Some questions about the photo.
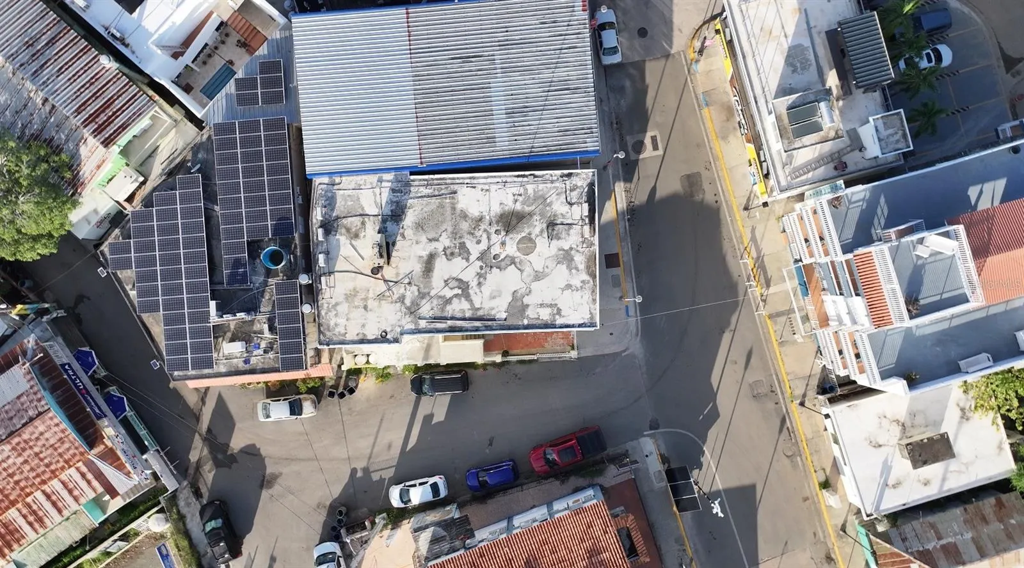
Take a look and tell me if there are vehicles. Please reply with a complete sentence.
Yes, the picture does show a vehicle.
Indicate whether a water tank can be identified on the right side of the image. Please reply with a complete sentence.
No, there's no water tank to be seen on the right side of the image.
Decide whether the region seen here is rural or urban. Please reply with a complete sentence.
The land in this view is best described as urban.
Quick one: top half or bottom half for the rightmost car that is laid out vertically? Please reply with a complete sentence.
The rightmost car that is laid out vertically is in the top half of the image.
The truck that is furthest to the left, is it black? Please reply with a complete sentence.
Yes, black is the color of the truck that is furthest to the left.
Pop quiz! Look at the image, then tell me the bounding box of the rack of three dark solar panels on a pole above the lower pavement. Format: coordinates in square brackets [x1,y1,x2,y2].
[666,465,702,513]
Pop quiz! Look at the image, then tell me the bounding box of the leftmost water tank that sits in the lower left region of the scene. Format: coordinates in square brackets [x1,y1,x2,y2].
[140,512,168,538]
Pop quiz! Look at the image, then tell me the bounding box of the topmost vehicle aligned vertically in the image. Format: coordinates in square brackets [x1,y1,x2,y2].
[595,5,622,65]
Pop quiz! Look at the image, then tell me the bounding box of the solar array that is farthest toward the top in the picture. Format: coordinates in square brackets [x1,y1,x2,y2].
[235,60,285,106]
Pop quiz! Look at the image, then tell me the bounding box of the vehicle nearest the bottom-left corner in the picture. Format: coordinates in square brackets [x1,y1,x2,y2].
[196,499,236,568]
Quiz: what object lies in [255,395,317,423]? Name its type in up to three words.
car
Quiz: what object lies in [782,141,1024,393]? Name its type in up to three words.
house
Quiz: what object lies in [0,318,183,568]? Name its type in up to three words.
building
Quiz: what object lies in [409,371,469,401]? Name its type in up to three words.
car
